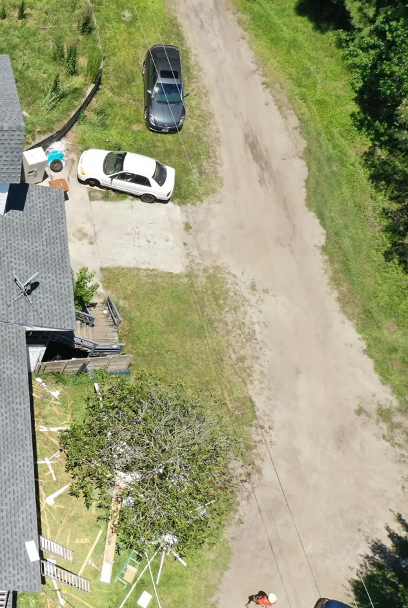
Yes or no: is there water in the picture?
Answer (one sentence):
No, water can't be seen anywhere here.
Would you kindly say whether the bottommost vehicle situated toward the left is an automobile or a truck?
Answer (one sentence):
It looks like the bottommost vehicle situated toward the left is an automobile.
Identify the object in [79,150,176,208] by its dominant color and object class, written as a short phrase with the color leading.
white car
